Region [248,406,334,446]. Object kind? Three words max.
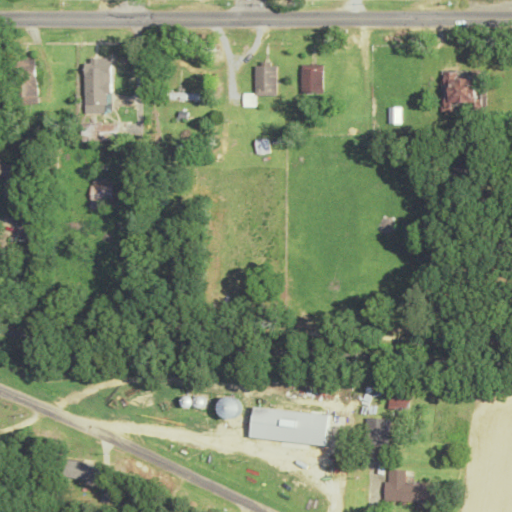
barn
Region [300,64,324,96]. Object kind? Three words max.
house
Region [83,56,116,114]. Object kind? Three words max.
house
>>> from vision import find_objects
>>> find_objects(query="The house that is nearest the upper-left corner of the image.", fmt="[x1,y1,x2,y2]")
[18,57,42,104]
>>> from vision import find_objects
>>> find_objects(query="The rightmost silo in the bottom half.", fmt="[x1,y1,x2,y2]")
[216,394,245,422]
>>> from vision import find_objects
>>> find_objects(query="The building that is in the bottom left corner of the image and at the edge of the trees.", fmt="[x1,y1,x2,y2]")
[64,457,92,479]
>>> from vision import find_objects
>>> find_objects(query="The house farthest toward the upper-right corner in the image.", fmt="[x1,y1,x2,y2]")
[446,68,490,111]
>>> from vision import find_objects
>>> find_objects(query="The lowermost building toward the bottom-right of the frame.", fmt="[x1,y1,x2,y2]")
[384,470,428,502]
